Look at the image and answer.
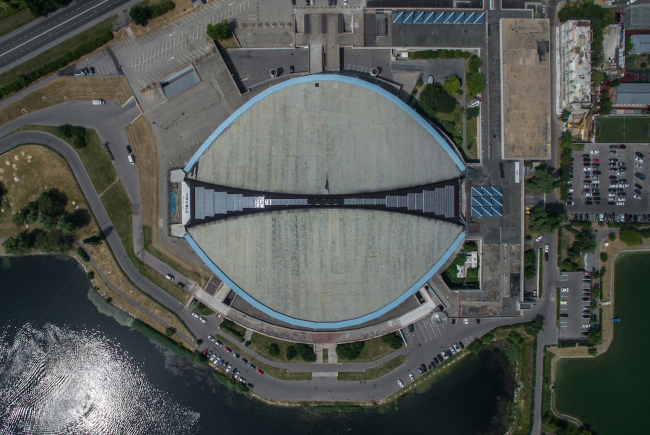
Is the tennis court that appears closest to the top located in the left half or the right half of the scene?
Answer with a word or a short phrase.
right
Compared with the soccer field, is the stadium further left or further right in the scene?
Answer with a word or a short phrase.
left of it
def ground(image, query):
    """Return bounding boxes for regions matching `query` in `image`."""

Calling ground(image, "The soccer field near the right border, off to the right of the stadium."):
[593,114,650,143]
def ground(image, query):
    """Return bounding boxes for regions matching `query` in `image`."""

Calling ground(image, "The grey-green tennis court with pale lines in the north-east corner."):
[621,2,650,31]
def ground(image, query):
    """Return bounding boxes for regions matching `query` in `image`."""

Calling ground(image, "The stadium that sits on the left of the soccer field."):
[171,74,468,329]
